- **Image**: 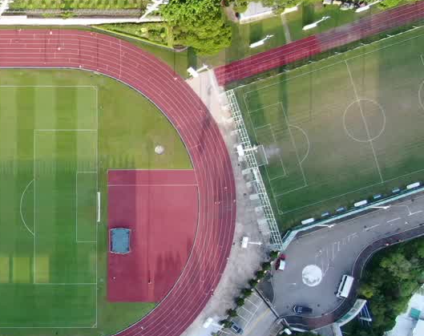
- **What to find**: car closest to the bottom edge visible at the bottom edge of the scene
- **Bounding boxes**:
[230,323,244,335]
